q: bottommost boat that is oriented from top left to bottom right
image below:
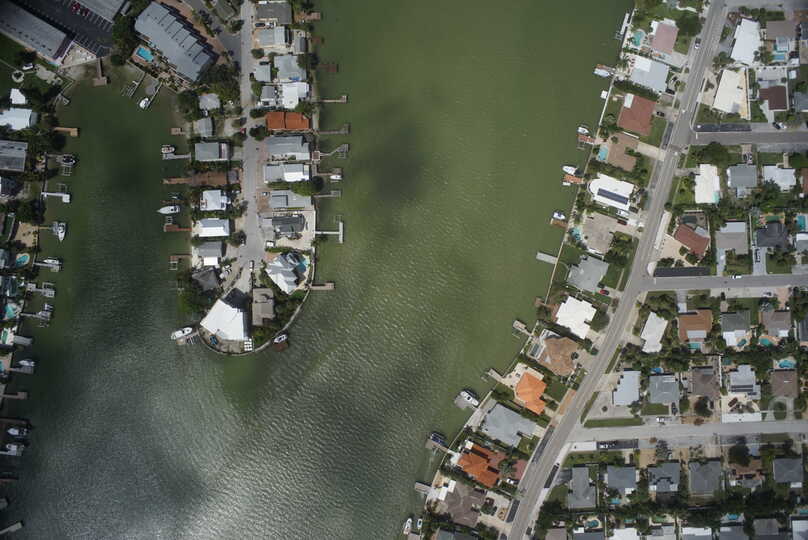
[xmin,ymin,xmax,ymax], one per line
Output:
[428,431,446,444]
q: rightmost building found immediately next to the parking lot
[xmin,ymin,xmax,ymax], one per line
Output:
[135,2,213,87]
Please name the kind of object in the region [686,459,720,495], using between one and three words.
house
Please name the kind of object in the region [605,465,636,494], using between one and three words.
house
